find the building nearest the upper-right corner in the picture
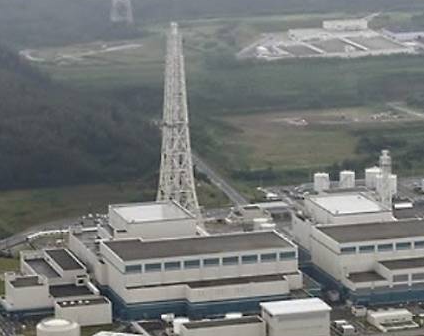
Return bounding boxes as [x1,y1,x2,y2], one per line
[376,25,424,39]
